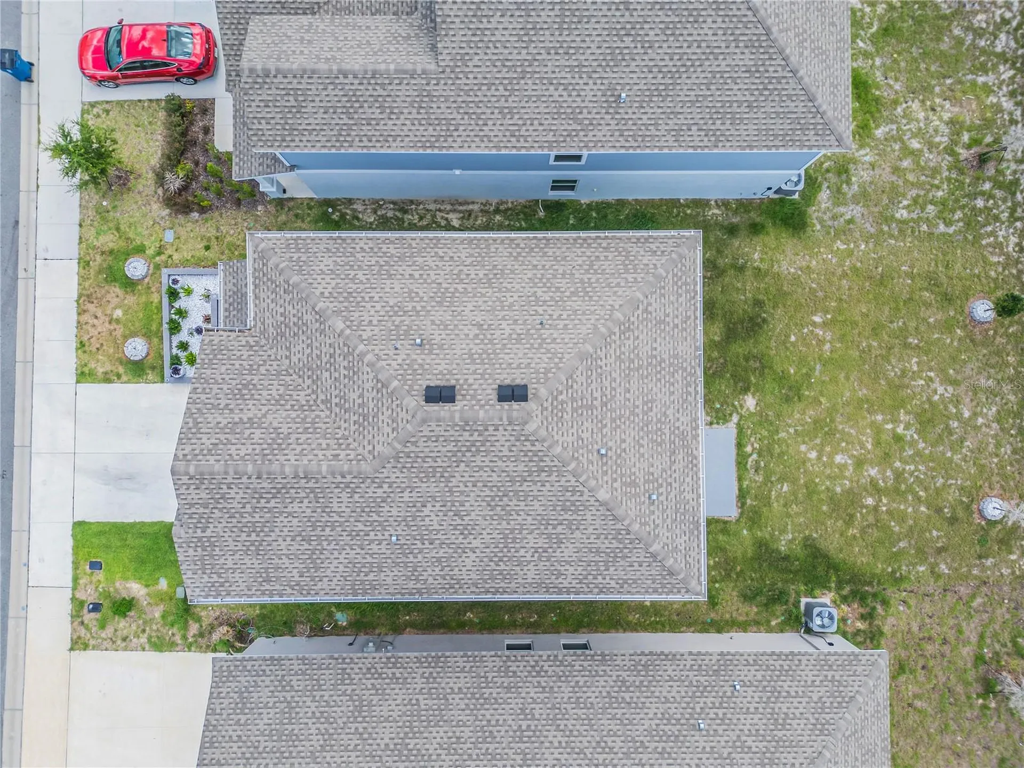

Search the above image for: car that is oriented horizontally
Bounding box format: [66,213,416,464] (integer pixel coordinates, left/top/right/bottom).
[77,17,218,87]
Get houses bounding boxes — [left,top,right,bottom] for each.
[213,0,854,211]
[194,630,891,768]
[172,231,708,604]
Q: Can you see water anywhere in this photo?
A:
No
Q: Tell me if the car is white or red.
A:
red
